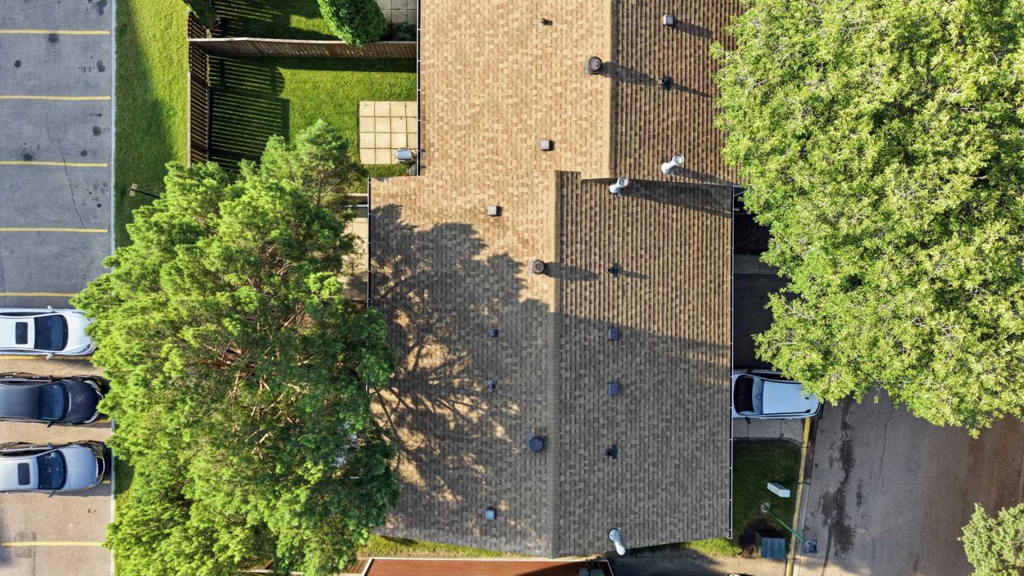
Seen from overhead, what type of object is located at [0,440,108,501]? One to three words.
car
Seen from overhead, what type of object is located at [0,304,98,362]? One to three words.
car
